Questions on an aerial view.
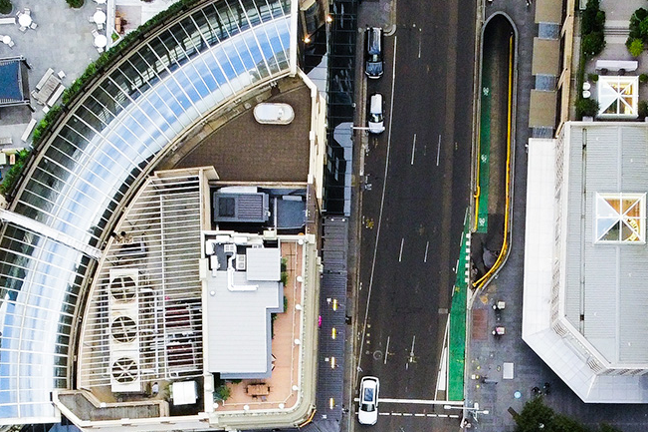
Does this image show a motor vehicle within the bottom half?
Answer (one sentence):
Yes, I can see a motor vehicle within the bottom half.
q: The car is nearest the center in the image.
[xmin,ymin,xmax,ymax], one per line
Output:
[365,92,386,136]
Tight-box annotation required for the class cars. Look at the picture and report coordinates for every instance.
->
[362,27,385,80]
[357,376,379,426]
[365,92,386,136]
